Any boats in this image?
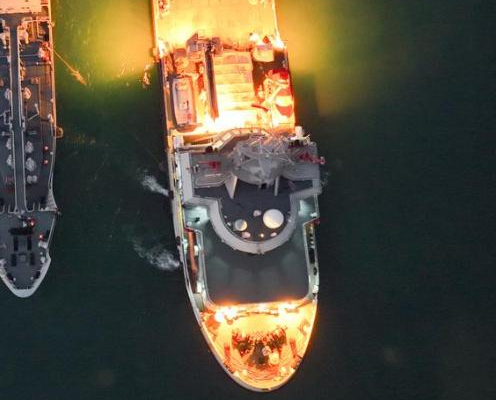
Yes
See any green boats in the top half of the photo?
No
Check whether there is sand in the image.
No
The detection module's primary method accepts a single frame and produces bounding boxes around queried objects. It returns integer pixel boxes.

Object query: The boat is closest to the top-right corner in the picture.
[271,68,295,115]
